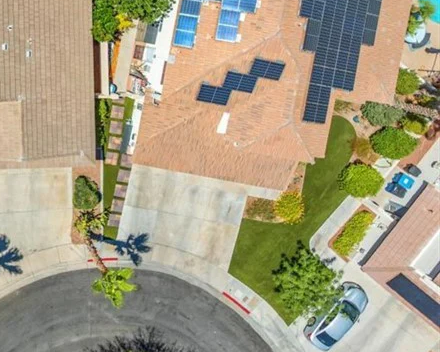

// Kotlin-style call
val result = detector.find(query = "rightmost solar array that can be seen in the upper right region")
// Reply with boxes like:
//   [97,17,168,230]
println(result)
[299,0,385,123]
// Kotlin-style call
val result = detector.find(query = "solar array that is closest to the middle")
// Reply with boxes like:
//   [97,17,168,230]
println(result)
[197,58,286,106]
